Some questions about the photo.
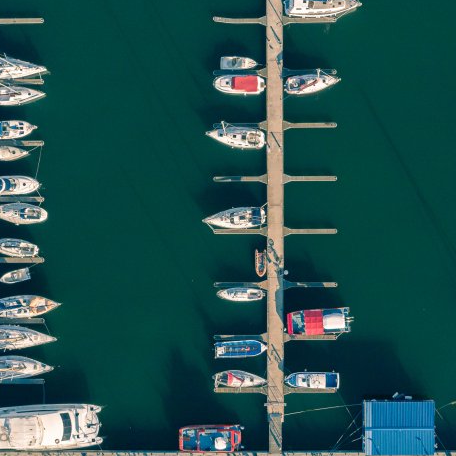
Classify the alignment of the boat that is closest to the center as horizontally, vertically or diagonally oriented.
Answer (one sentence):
The boat that is closest to the center is oriented horizontally.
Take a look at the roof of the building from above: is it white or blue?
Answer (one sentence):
The color of the roof of the building is blue.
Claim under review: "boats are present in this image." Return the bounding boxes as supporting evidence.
[0,144,30,163]
[206,122,269,151]
[0,403,104,449]
[255,250,267,277]
[282,69,343,97]
[0,79,48,108]
[215,285,269,302]
[282,369,339,390]
[212,74,269,96]
[216,371,269,391]
[0,52,48,81]
[213,338,269,357]
[0,269,34,283]
[201,207,268,229]
[0,324,58,353]
[0,293,60,321]
[0,175,41,196]
[282,307,353,336]
[0,119,37,140]
[283,0,362,20]
[0,354,55,381]
[0,236,41,258]
[221,55,269,71]
[0,201,50,224]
